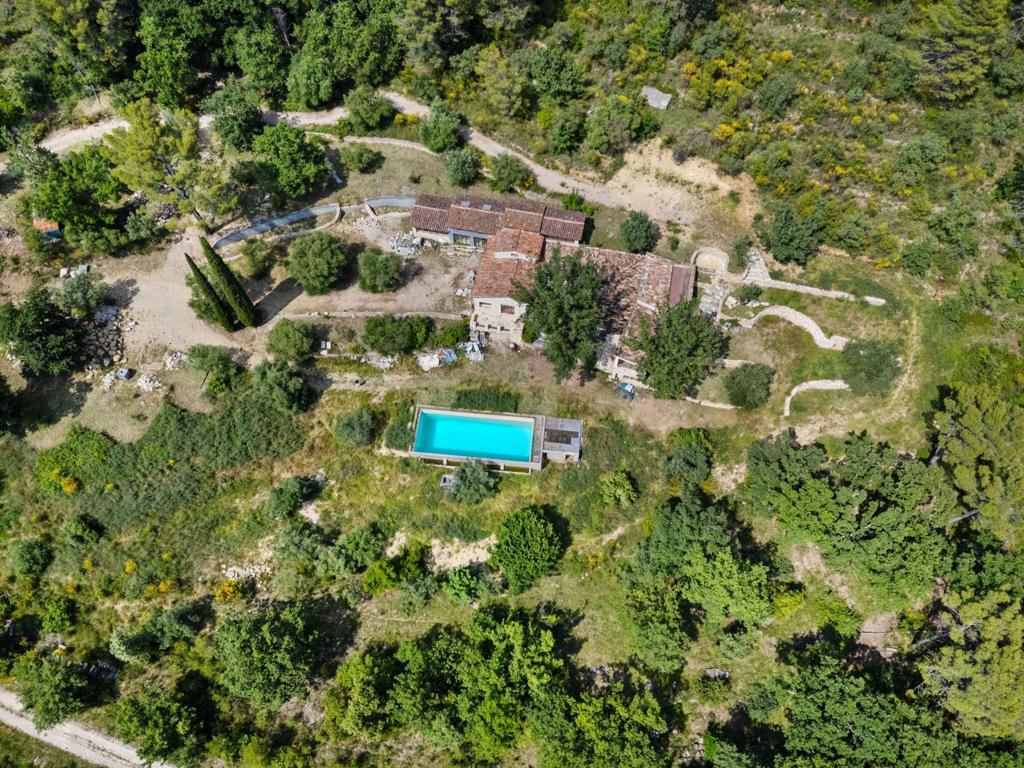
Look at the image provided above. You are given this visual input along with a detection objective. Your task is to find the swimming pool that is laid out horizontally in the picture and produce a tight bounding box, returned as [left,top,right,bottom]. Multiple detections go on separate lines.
[409,405,546,480]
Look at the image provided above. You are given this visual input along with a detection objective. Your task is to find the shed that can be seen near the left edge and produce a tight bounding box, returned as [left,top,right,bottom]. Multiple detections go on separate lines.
[34,217,65,246]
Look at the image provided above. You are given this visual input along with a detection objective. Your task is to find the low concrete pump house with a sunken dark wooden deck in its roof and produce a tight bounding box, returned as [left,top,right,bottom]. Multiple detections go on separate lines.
[543,416,584,471]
